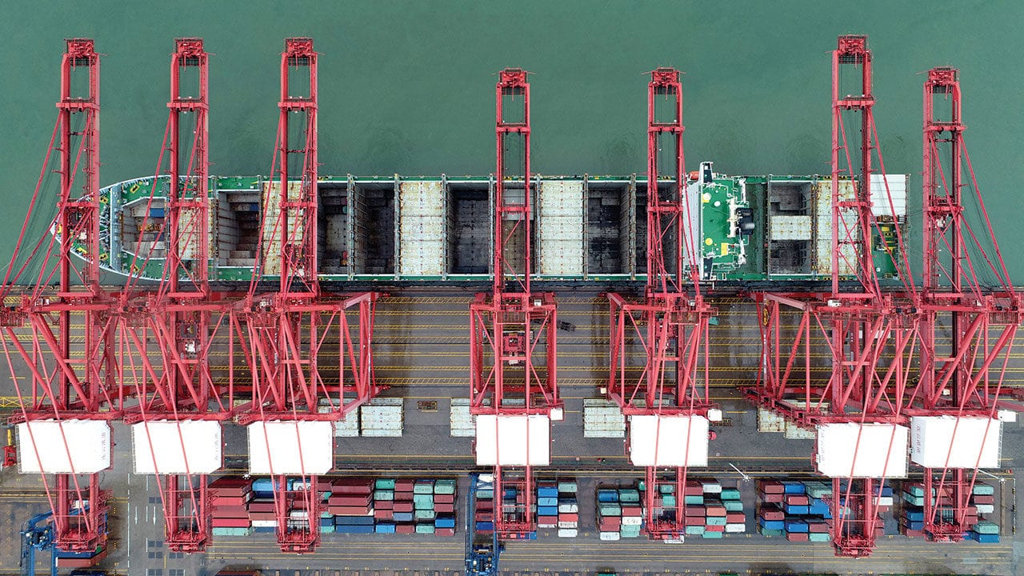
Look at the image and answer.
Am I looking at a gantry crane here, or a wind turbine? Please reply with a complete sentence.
There is a gantry crane in the scene.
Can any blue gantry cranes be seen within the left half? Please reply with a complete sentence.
Yes, the scene does show a blue gantry crane within the left half.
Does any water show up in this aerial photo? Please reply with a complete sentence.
Yes, there's water in this view.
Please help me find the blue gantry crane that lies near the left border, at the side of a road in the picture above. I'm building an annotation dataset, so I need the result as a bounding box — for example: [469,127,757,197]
[24,503,109,576]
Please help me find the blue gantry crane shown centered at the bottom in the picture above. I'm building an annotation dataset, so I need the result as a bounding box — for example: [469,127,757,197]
[466,457,504,576]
